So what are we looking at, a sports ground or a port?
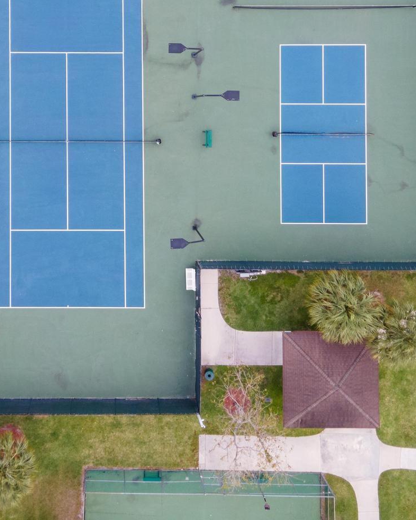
sports ground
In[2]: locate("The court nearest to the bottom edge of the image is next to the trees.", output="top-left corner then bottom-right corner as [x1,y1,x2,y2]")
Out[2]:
[83,471,323,520]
